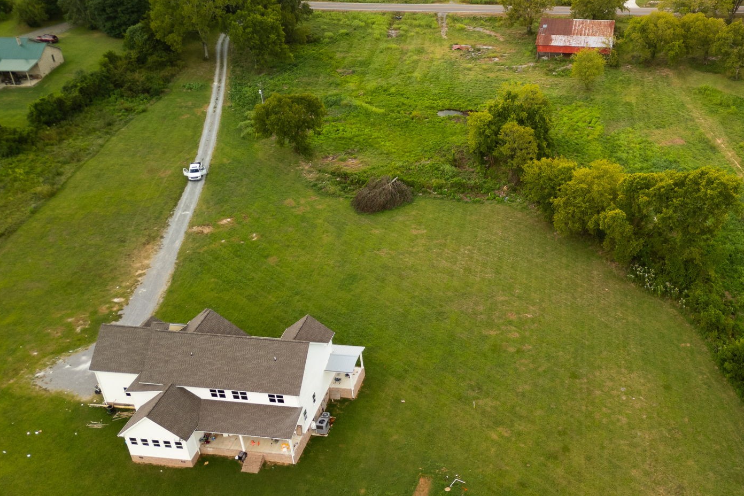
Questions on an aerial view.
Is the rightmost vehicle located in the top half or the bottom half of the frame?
top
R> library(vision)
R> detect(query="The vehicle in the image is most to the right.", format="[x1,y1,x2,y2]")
[186,157,215,177]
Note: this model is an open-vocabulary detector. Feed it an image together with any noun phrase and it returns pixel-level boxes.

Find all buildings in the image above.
[88,308,368,472]
[536,19,615,59]
[0,36,63,88]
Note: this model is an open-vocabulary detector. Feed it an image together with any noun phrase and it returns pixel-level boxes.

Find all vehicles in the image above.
[186,157,215,177]
[36,32,62,41]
